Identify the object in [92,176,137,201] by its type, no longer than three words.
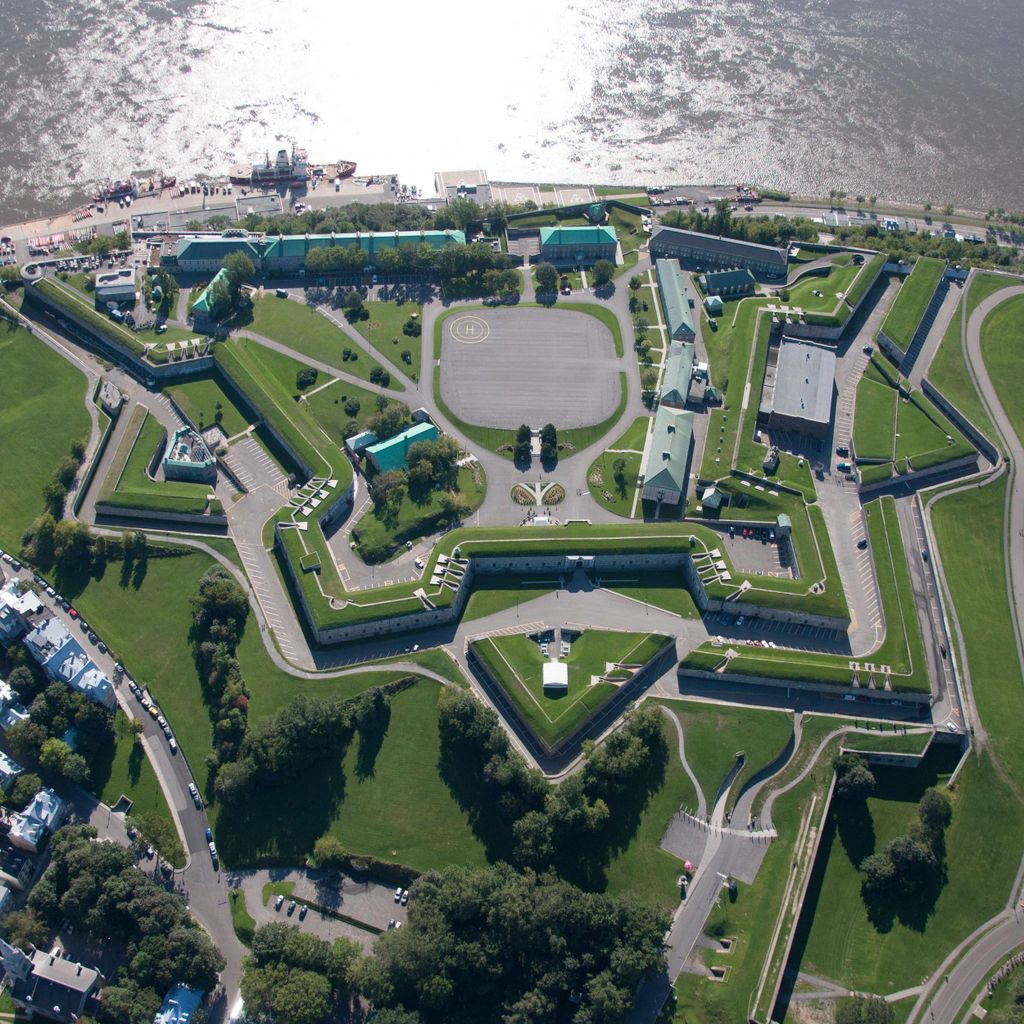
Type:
boat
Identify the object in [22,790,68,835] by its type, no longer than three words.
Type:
house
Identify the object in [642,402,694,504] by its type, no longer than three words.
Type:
building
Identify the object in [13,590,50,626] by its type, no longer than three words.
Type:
house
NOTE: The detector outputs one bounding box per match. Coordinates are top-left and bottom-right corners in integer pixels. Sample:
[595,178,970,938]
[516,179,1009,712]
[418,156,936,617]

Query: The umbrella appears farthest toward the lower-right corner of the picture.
[682,857,696,870]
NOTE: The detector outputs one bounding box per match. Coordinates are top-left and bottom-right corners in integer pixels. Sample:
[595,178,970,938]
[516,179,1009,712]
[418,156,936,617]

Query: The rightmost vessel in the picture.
[225,129,356,184]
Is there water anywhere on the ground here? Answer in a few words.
Yes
